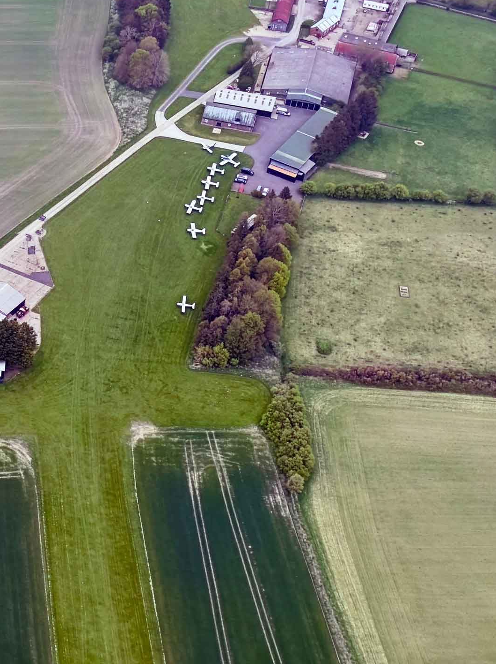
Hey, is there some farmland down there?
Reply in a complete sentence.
Yes, there's farmland in this view.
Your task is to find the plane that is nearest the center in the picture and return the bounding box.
[177,296,194,313]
